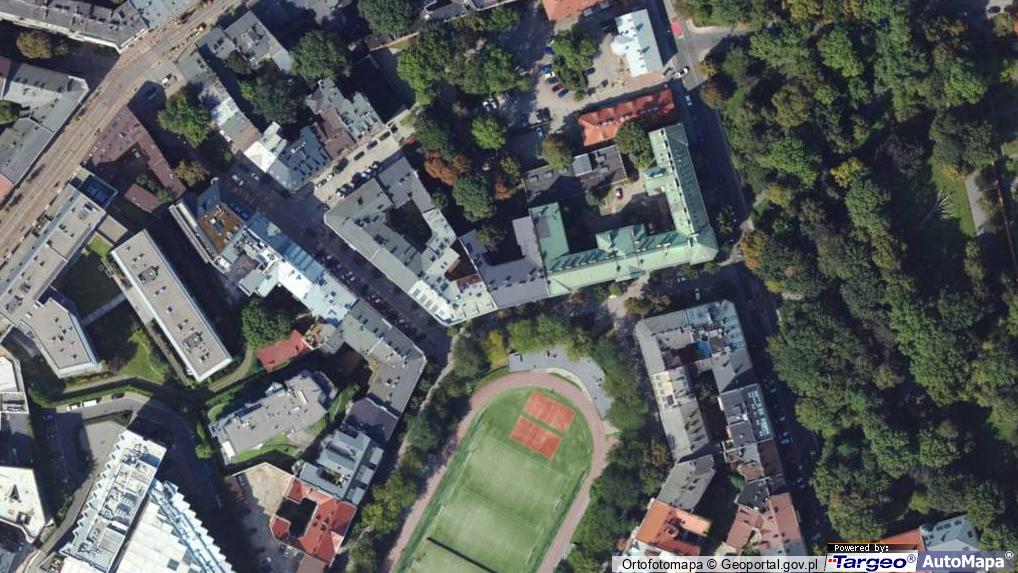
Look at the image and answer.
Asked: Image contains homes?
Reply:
Yes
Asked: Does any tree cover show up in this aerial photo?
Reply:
Yes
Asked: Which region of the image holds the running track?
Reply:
bottom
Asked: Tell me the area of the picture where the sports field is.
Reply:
bottom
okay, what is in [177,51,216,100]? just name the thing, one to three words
building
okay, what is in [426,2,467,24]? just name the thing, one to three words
house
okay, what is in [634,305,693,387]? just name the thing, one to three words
building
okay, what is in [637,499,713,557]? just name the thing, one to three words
house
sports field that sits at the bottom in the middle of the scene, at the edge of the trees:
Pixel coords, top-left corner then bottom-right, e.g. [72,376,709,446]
[402,382,591,573]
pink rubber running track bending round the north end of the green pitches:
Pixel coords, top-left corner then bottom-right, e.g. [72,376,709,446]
[389,369,603,573]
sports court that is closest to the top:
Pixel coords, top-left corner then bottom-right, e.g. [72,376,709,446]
[523,390,577,433]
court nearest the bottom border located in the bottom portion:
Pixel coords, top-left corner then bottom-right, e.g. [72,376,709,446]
[510,416,562,460]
